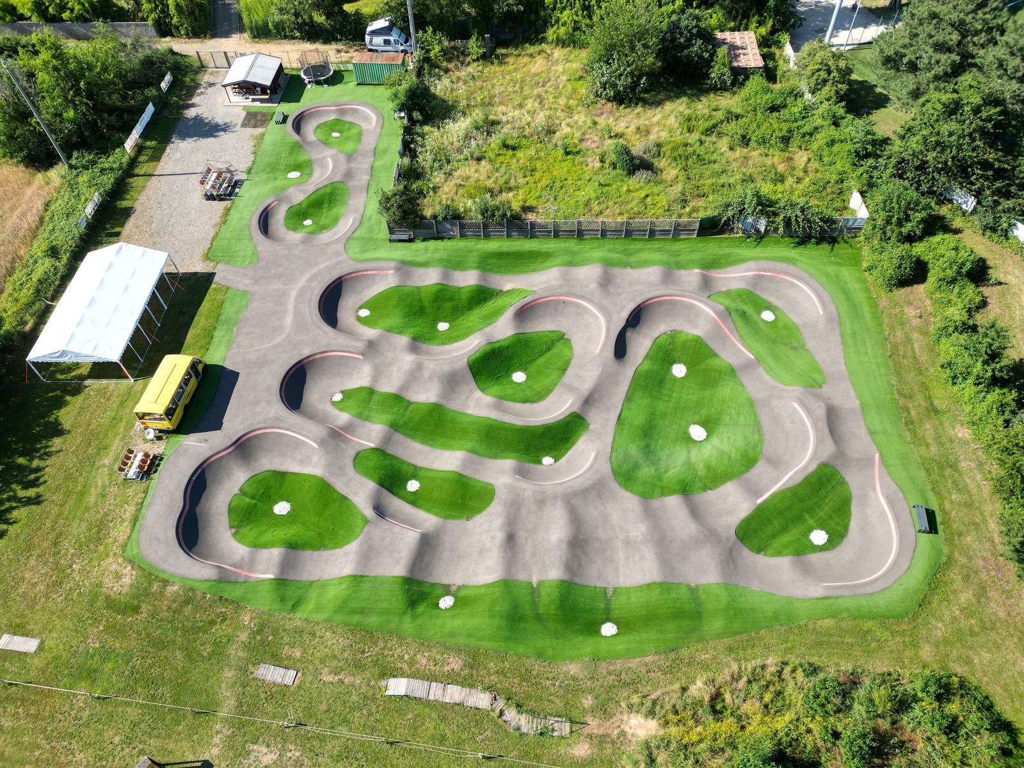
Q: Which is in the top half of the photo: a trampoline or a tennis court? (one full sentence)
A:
Visible in the top half of the photo is a trampoline.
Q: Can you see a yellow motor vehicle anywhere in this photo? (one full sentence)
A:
Yes, the photo shows a yellow motor vehicle.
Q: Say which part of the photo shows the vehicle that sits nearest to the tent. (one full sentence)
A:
Look in the left portion of the view to spot the vehicle that sits nearest to the tent.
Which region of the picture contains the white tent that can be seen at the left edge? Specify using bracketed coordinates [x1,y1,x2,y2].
[27,242,180,383]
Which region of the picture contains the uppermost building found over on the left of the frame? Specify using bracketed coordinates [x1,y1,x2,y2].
[219,52,290,107]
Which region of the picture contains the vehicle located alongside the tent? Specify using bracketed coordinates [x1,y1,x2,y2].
[136,355,210,435]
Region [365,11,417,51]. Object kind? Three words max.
camper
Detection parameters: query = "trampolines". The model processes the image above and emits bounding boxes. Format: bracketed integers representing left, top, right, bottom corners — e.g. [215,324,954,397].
[297,49,335,85]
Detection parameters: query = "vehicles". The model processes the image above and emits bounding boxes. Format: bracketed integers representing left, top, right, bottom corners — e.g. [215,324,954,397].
[136,355,210,435]
[365,11,417,51]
